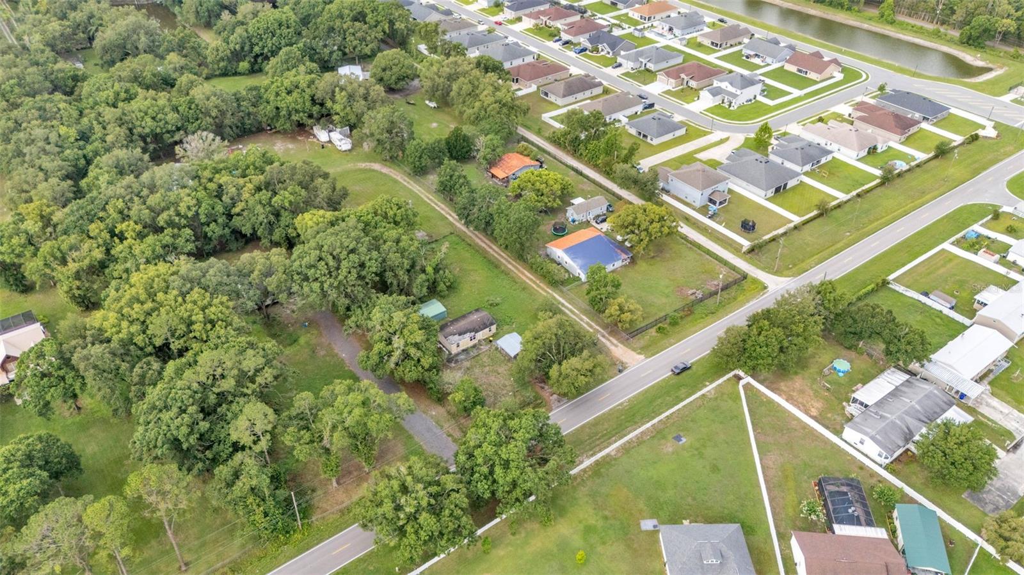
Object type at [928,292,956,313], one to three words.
shed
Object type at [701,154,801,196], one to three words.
house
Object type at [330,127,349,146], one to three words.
camper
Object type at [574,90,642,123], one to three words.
house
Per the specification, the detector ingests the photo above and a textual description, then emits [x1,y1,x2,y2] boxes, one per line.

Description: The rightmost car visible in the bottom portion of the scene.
[670,358,692,373]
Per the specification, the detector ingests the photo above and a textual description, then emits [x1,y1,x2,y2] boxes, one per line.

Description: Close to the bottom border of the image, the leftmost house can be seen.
[659,523,756,575]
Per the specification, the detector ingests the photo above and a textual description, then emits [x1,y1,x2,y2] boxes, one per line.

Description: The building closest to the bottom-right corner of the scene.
[893,504,957,575]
